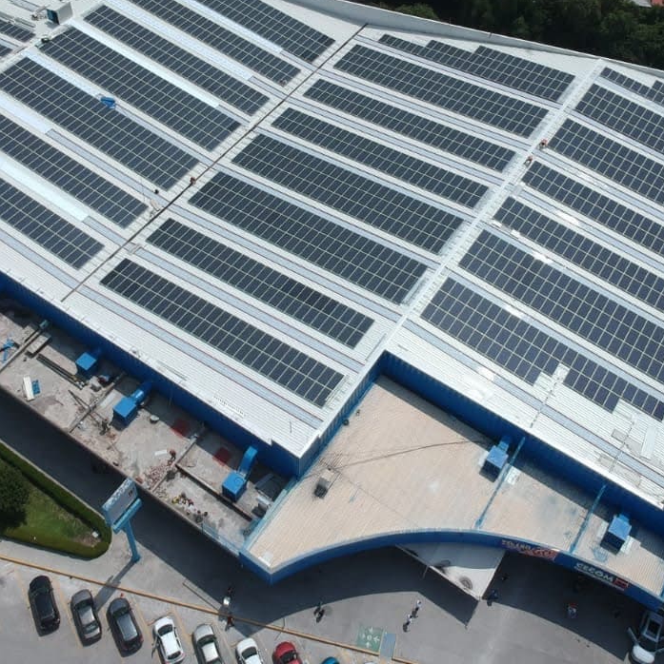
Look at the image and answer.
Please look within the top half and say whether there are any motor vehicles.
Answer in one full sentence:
No, I can find no motor vehicle within the top half.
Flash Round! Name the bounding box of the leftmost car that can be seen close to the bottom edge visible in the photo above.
[25,576,63,637]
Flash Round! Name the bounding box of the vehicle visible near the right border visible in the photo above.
[626,607,664,664]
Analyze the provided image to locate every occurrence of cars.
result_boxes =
[106,599,148,659]
[268,639,300,664]
[68,589,107,647]
[626,607,664,664]
[230,633,265,664]
[25,576,63,637]
[187,620,230,664]
[150,616,188,664]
